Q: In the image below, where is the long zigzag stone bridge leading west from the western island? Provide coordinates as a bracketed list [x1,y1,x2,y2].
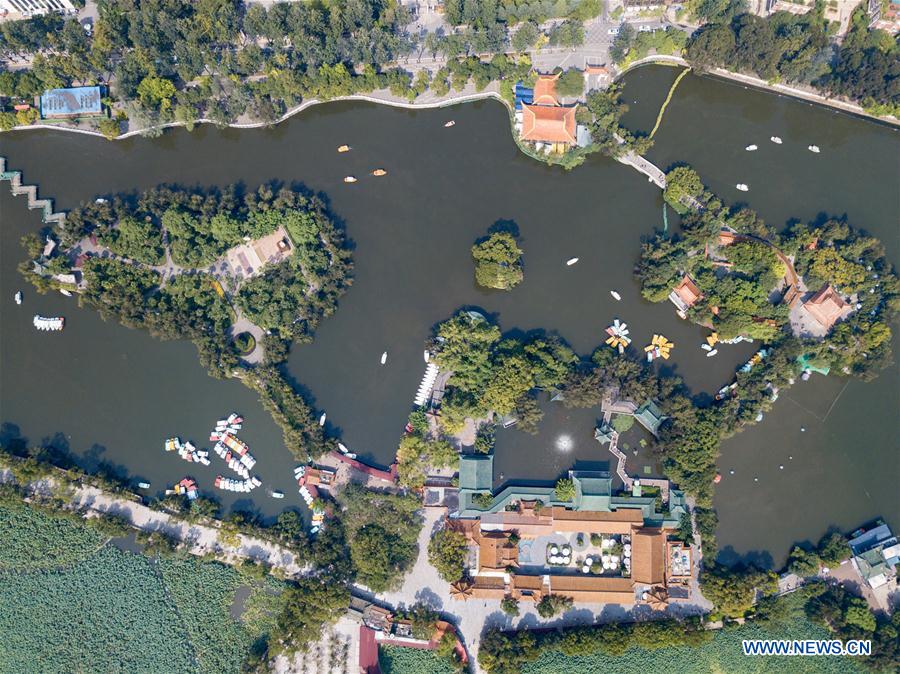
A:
[0,155,67,230]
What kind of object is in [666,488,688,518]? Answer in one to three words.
building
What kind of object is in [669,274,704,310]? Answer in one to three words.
building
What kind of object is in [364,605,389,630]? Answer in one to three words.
house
